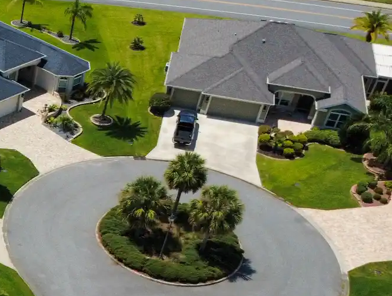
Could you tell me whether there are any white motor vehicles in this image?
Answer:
No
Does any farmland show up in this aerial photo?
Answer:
No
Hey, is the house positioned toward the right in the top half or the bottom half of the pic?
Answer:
top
